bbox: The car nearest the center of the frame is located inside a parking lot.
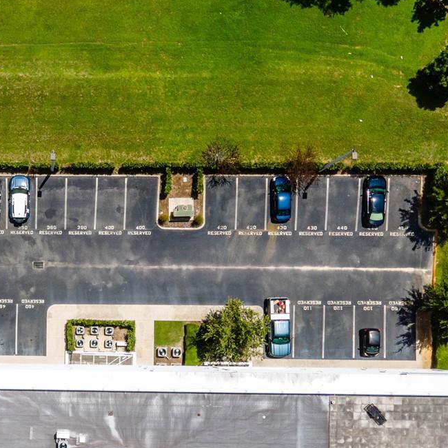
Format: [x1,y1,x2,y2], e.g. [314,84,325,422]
[267,172,295,227]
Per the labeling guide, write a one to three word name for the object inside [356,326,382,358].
car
